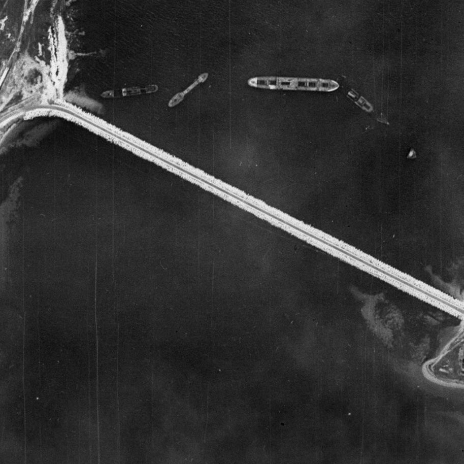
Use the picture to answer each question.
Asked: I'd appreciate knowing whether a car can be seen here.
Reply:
No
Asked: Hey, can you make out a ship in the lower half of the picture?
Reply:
No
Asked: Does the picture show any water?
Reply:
Yes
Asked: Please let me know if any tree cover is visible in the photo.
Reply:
No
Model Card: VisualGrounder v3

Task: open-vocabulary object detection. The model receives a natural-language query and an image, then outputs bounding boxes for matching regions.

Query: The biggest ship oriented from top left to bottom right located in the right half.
[347,89,374,112]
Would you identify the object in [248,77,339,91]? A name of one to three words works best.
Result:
ship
